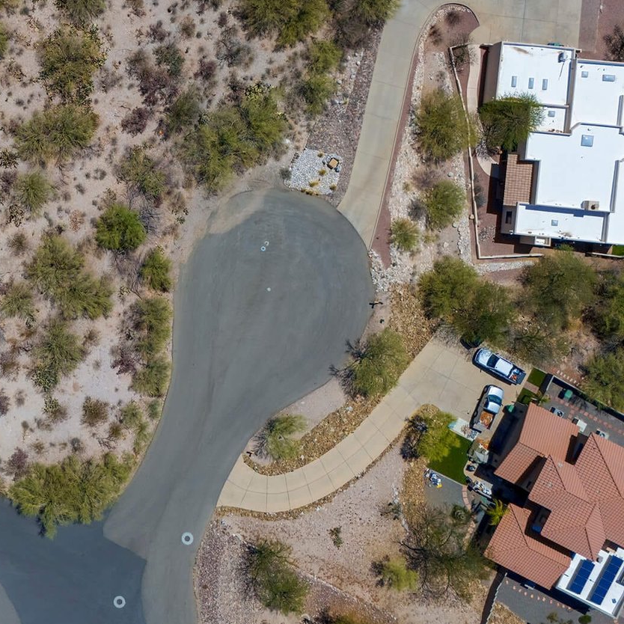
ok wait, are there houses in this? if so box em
[480,42,624,248]
[478,398,624,617]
